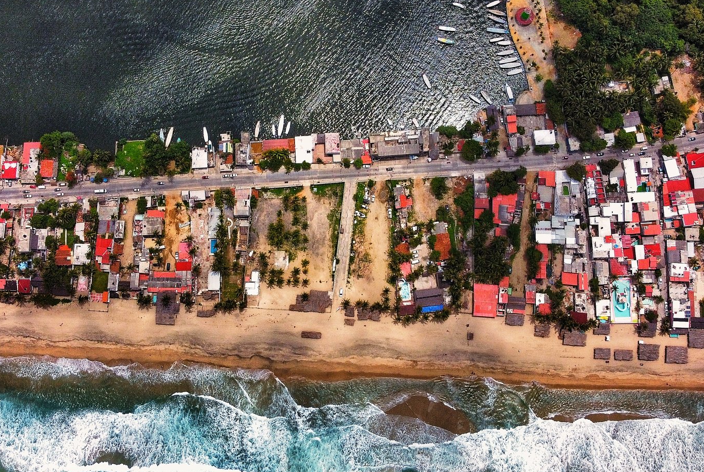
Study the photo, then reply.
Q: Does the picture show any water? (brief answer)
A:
Yes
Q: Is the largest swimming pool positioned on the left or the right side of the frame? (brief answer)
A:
right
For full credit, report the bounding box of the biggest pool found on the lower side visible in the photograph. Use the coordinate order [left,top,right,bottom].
[612,279,632,318]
